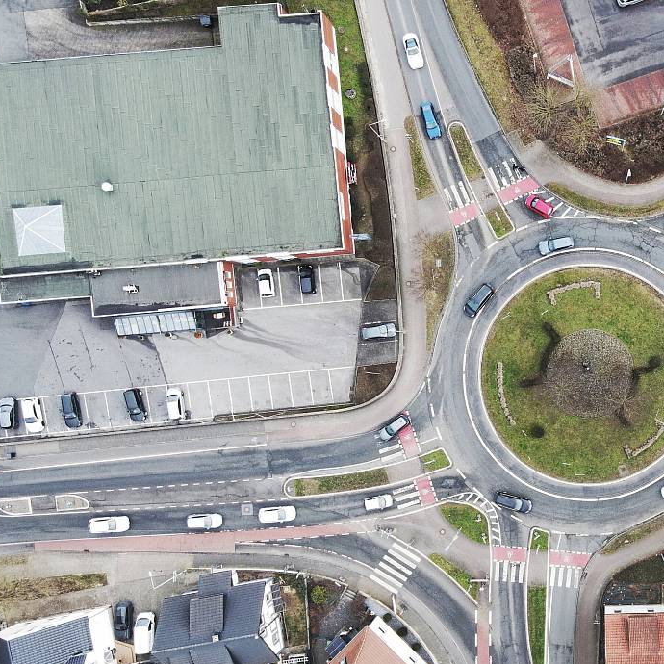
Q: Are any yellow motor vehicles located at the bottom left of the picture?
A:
No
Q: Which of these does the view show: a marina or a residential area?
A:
residential area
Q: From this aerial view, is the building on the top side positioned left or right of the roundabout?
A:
to the left of it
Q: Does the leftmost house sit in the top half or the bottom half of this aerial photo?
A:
bottom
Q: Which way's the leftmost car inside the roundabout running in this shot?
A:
diagonally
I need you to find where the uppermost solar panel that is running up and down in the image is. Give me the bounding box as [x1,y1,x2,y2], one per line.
[274,577,290,612]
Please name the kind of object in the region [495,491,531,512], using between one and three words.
car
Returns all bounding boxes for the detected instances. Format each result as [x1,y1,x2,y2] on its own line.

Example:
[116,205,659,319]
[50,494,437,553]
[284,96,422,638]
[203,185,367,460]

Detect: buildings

[606,585,664,664]
[149,553,318,664]
[0,603,122,664]
[0,1,370,336]
[330,617,424,664]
